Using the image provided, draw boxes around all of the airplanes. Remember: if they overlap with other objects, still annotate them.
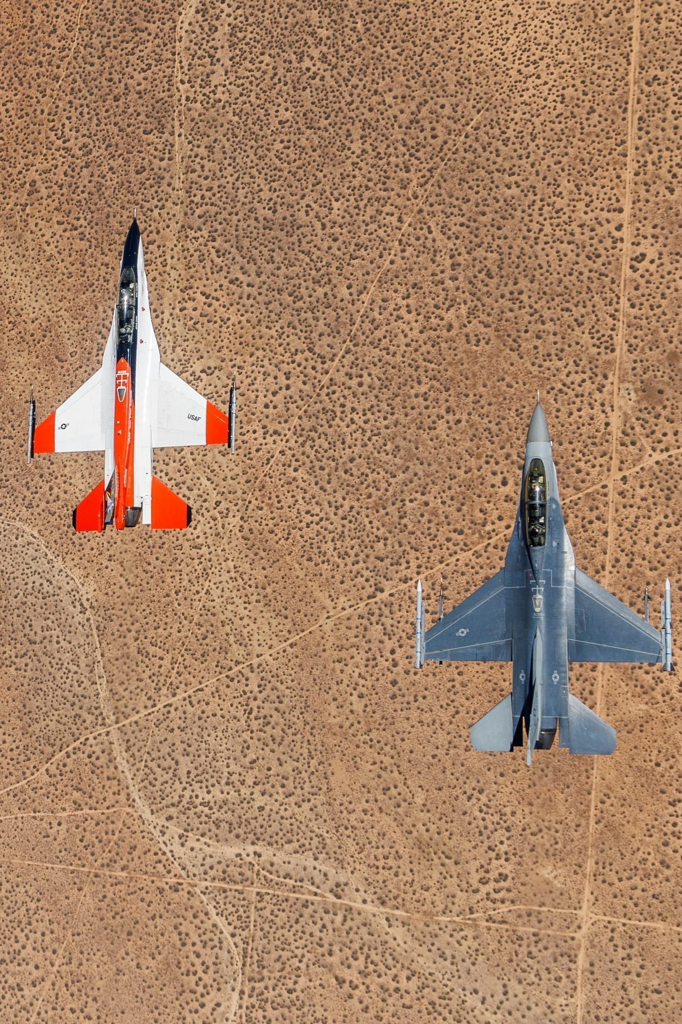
[32,217,231,533]
[422,392,664,764]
